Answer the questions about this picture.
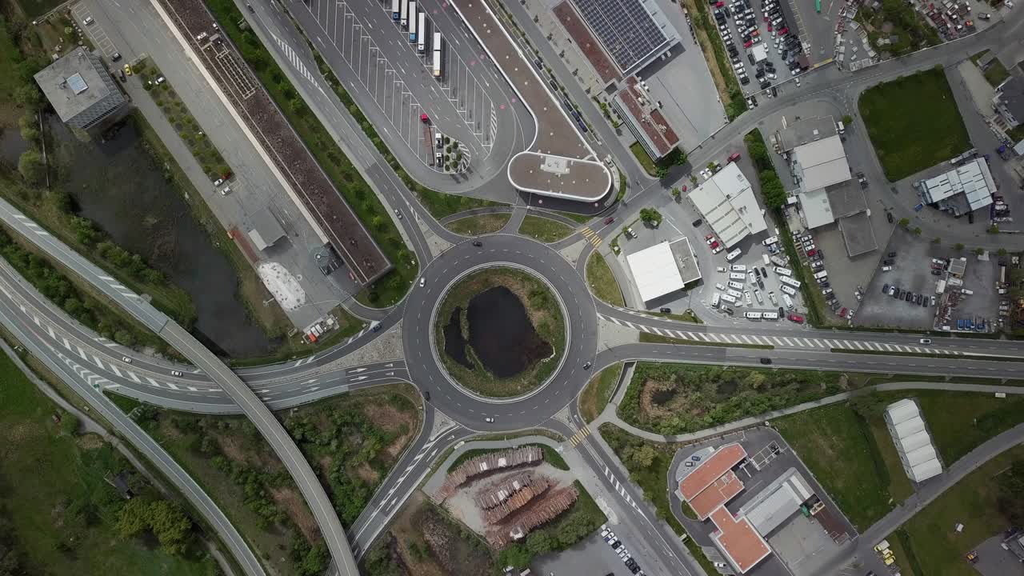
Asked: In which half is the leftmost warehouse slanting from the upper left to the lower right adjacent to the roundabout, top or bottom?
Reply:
top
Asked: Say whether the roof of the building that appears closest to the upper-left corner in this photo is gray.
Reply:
Yes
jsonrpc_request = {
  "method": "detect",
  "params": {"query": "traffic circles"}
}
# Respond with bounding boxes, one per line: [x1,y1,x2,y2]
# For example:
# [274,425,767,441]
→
[402,234,598,430]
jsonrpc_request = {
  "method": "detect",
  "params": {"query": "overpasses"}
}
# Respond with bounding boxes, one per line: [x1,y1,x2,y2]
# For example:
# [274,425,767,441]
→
[0,197,360,576]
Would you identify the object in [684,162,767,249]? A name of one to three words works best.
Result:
building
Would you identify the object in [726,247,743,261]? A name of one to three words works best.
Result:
camper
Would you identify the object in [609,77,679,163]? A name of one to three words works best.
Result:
building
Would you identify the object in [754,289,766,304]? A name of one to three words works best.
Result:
vehicle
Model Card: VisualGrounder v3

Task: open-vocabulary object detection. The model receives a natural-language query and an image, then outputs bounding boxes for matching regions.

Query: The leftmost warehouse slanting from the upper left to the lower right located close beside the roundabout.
[150,0,395,282]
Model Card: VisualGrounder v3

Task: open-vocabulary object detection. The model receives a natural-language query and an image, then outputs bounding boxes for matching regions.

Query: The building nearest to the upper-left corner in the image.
[34,47,127,128]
